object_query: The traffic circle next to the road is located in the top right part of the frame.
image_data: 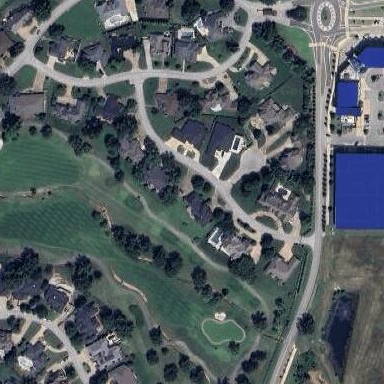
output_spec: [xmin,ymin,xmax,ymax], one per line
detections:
[311,0,342,38]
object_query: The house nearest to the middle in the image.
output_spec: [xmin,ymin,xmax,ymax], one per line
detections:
[183,191,216,220]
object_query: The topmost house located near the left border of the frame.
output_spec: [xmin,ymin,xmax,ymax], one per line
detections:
[3,6,32,28]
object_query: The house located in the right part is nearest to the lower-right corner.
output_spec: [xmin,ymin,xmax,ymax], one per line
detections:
[264,252,300,284]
